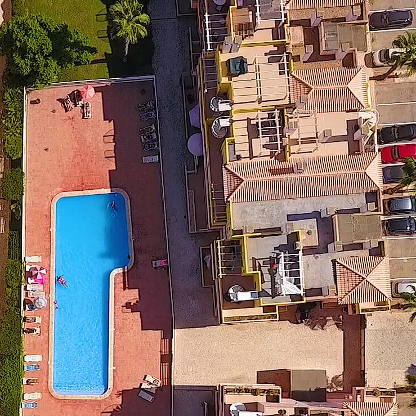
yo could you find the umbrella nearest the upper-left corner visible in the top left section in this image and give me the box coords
[79,86,96,102]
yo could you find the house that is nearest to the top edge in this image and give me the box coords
[176,0,382,178]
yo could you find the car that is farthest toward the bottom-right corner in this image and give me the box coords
[393,280,416,297]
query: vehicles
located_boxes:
[374,46,414,68]
[380,143,416,163]
[381,122,416,144]
[386,215,416,235]
[385,194,416,214]
[381,163,416,183]
[393,280,416,297]
[368,8,413,31]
